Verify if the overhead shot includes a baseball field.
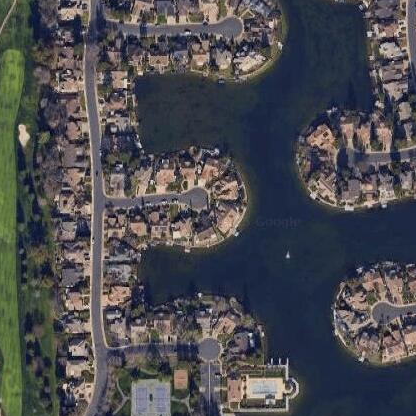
No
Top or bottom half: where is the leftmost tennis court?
bottom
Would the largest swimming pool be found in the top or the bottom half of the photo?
bottom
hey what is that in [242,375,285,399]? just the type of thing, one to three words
swimming pool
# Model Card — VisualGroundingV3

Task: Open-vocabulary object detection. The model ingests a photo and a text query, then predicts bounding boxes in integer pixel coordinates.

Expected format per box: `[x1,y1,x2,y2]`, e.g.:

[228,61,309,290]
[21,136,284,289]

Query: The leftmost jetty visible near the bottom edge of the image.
[240,358,299,411]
